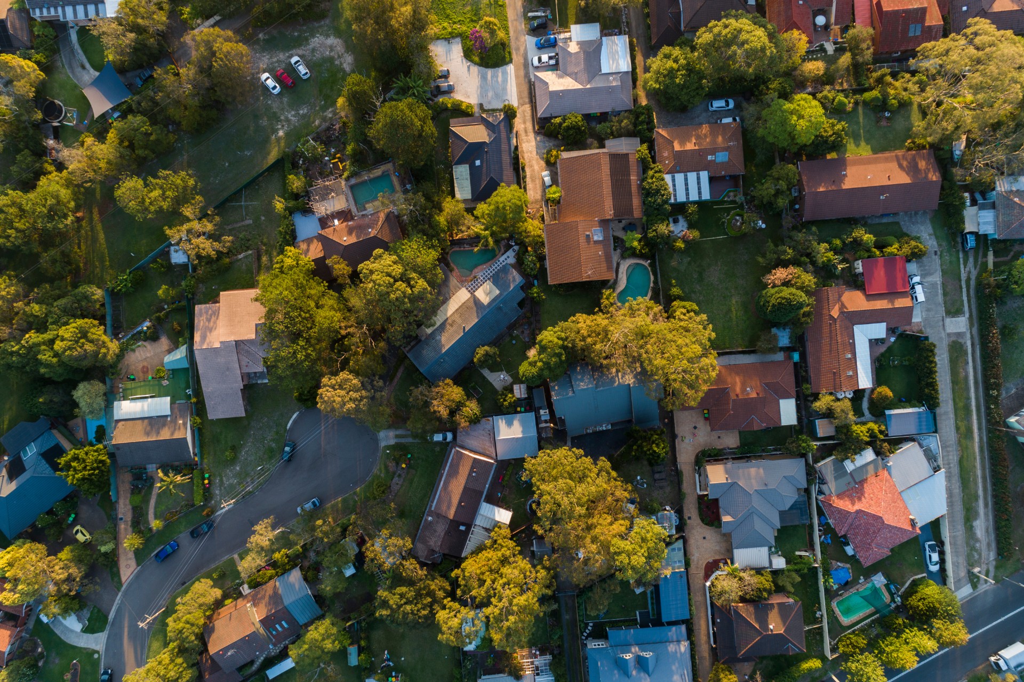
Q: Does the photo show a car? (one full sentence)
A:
Yes, the frame does contain a car.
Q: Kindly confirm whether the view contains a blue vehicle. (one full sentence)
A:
Yes, the image includes a blue vehicle.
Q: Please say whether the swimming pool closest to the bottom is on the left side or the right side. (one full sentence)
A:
The swimming pool closest to the bottom is on the right side of the image.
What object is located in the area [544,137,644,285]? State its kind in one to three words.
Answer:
house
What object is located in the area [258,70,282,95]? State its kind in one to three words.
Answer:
car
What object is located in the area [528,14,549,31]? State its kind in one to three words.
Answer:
vehicle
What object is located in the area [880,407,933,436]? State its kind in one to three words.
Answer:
shed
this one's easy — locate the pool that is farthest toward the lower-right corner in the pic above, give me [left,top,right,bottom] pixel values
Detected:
[833,579,890,625]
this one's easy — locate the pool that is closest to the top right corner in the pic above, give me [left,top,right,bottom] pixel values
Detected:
[616,260,653,306]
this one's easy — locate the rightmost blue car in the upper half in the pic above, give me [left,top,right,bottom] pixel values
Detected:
[962,231,978,250]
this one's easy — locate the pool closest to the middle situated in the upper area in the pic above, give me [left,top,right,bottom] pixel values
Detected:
[447,246,503,278]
